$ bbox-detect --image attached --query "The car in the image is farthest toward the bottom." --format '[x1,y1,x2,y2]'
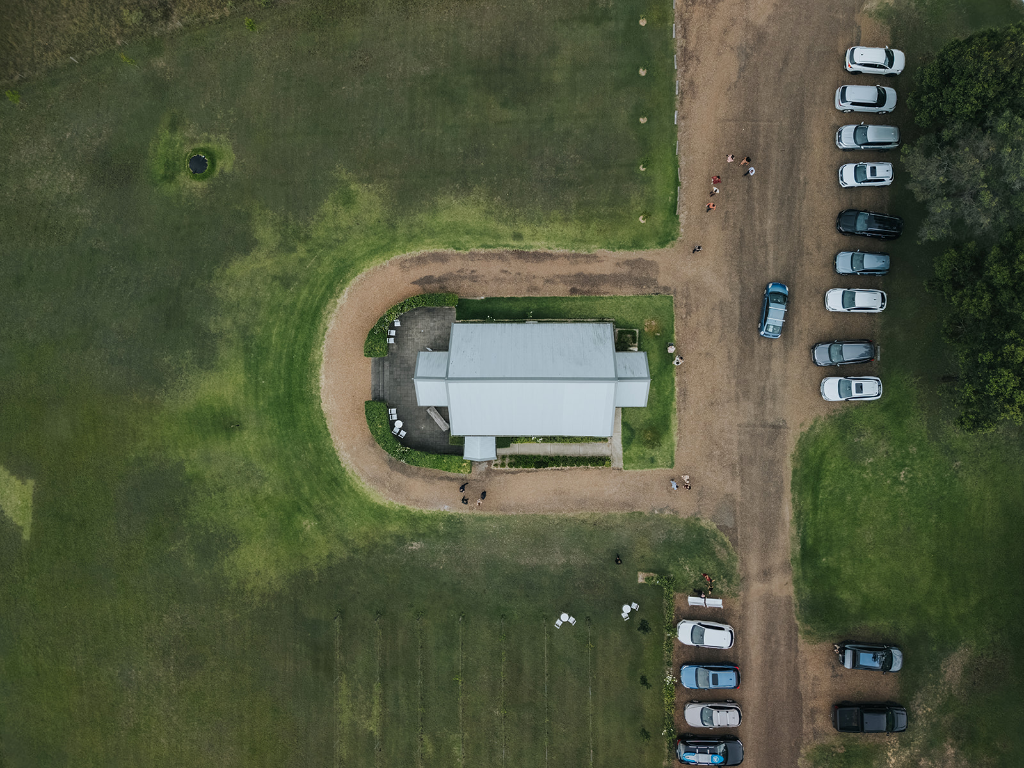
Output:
[675,731,743,768]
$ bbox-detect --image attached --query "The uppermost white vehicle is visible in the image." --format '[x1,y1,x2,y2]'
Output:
[844,45,905,79]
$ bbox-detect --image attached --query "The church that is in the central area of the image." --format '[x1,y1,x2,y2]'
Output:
[411,320,652,461]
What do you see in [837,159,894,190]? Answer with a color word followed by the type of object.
white car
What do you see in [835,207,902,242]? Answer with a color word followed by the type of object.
black car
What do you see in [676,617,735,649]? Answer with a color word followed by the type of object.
white car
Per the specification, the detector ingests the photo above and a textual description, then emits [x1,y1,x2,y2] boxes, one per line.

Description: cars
[841,640,903,675]
[757,285,791,338]
[844,45,905,79]
[823,284,886,315]
[835,207,902,242]
[837,159,894,190]
[678,660,741,693]
[675,731,743,768]
[835,84,896,117]
[676,617,735,649]
[819,373,882,404]
[810,339,875,369]
[682,697,743,730]
[831,247,890,277]
[834,121,900,155]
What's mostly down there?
grass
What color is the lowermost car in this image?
black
